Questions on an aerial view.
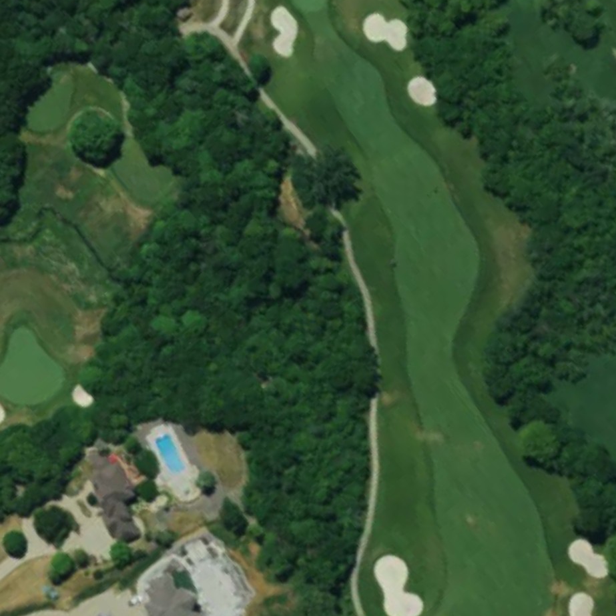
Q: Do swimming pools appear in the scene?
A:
Yes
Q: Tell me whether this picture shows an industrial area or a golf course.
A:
golf course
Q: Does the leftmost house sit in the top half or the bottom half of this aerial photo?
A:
bottom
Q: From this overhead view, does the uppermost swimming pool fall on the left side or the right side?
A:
left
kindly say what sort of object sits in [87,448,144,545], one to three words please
house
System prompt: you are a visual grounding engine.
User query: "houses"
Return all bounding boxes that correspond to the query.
[138,571,205,616]
[87,448,144,545]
